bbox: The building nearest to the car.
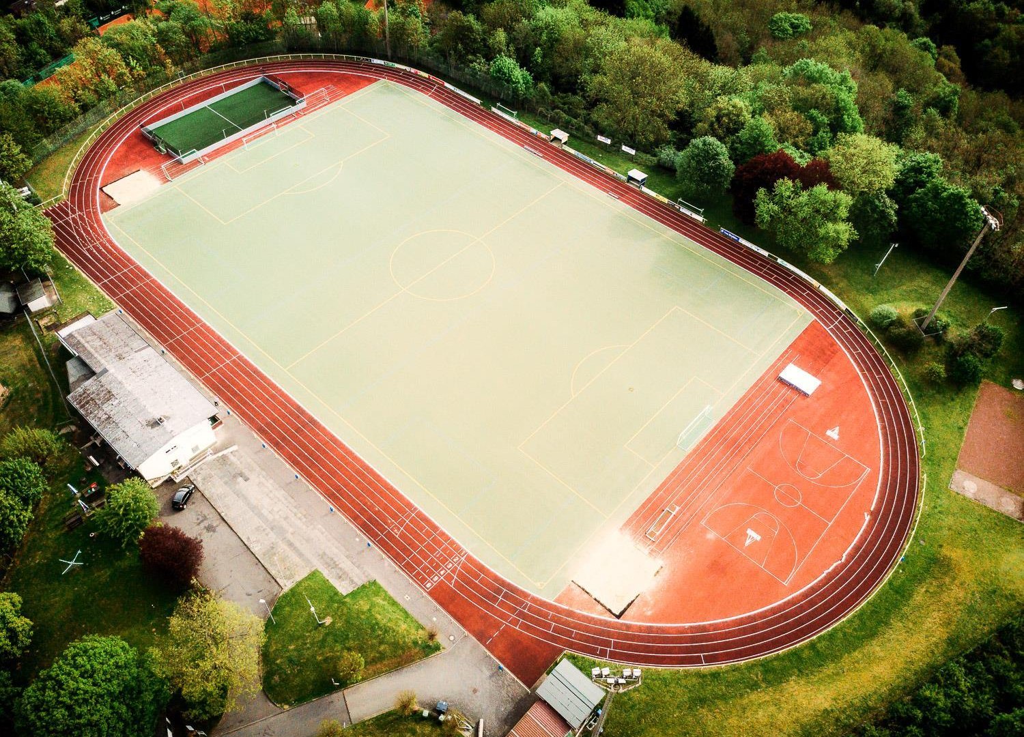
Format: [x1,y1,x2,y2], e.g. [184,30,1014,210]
[46,304,233,483]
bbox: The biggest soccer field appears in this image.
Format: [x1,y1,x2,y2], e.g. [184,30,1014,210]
[103,79,816,597]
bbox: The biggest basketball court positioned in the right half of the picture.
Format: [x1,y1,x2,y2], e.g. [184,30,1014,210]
[699,418,871,584]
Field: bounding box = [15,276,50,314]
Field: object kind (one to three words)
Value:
shed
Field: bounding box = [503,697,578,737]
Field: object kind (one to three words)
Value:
shed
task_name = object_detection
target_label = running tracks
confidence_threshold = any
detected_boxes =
[40,59,917,691]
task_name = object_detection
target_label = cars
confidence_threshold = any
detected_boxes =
[166,480,196,510]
